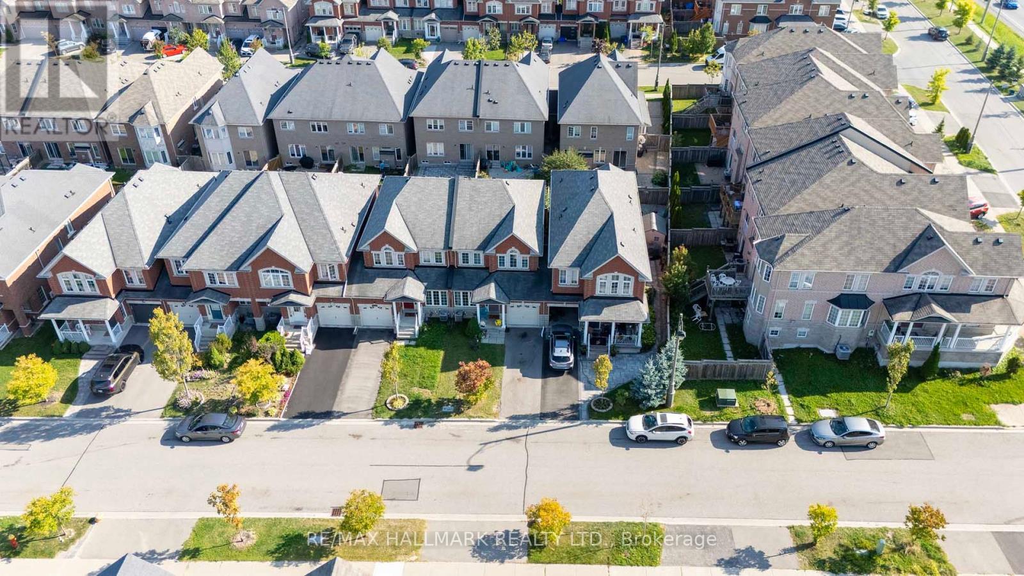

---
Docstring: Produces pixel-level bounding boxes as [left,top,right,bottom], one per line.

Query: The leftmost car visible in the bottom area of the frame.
[89,334,144,383]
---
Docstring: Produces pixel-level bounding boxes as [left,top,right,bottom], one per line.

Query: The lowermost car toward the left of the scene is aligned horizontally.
[174,408,252,442]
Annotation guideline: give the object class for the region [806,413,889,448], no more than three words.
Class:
car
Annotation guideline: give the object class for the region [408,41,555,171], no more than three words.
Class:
house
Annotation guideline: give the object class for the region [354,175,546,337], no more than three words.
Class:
house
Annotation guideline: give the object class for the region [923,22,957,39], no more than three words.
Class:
car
